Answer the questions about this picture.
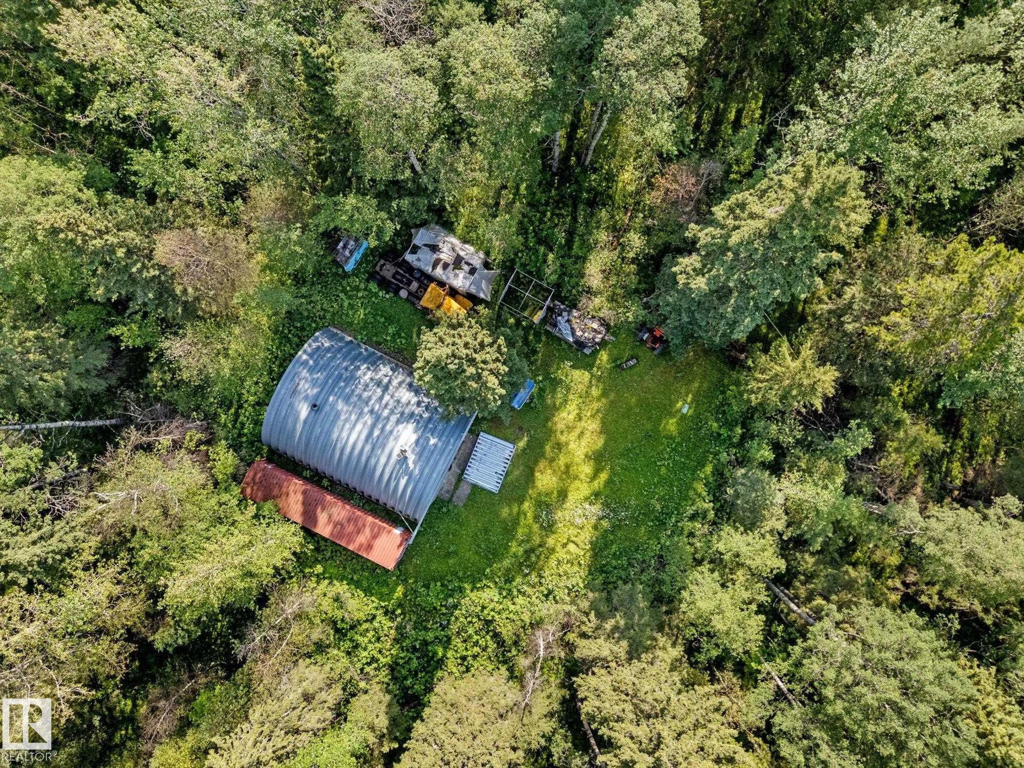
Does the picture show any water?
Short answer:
No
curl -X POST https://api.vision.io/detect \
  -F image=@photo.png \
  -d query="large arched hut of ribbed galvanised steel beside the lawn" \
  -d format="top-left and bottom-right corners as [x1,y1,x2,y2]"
[260,324,475,526]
